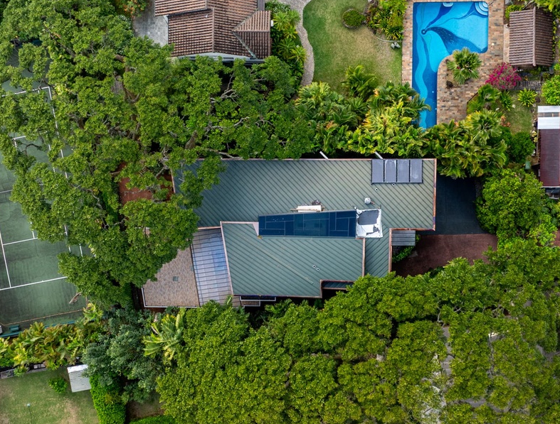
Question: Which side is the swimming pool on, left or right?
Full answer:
You can find the swimming pool on the right side of the picture.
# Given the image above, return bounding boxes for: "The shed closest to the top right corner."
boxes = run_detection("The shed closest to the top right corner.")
[507,6,555,67]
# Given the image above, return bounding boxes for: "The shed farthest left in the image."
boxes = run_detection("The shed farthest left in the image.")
[66,363,94,393]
